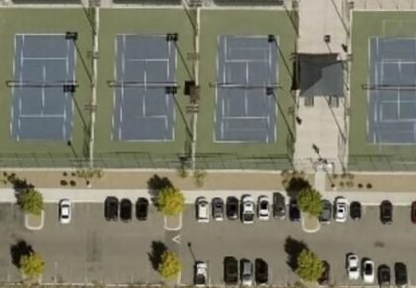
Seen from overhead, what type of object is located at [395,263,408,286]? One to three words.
vehicle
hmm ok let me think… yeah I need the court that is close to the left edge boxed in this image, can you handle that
[0,9,95,167]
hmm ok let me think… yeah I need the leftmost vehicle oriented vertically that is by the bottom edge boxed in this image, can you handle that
[195,260,208,287]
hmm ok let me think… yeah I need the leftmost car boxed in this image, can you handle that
[59,201,71,223]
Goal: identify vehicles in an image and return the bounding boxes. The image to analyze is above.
[289,200,301,223]
[411,202,416,224]
[378,264,390,287]
[136,198,149,222]
[241,261,253,284]
[227,198,240,221]
[225,259,238,283]
[349,201,361,222]
[59,201,71,223]
[318,262,329,284]
[320,202,332,225]
[335,199,347,222]
[256,260,269,283]
[346,255,359,279]
[242,197,255,223]
[197,201,209,221]
[273,196,286,219]
[212,200,224,220]
[195,260,208,287]
[395,263,408,286]
[106,198,119,221]
[120,200,133,222]
[380,201,392,224]
[362,260,374,283]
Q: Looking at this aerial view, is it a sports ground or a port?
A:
sports ground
